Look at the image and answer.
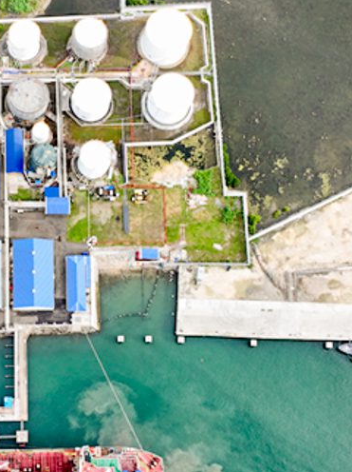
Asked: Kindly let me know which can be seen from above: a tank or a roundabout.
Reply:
tank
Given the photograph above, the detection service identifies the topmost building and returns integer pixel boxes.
[5,128,23,177]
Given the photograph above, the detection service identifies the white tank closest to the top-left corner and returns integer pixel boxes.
[0,21,48,69]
